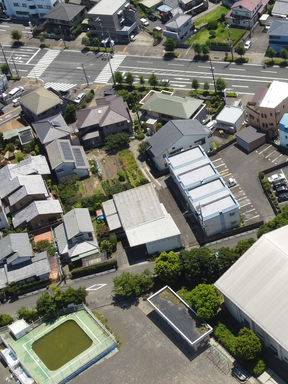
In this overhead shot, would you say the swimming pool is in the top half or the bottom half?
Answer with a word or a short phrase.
bottom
